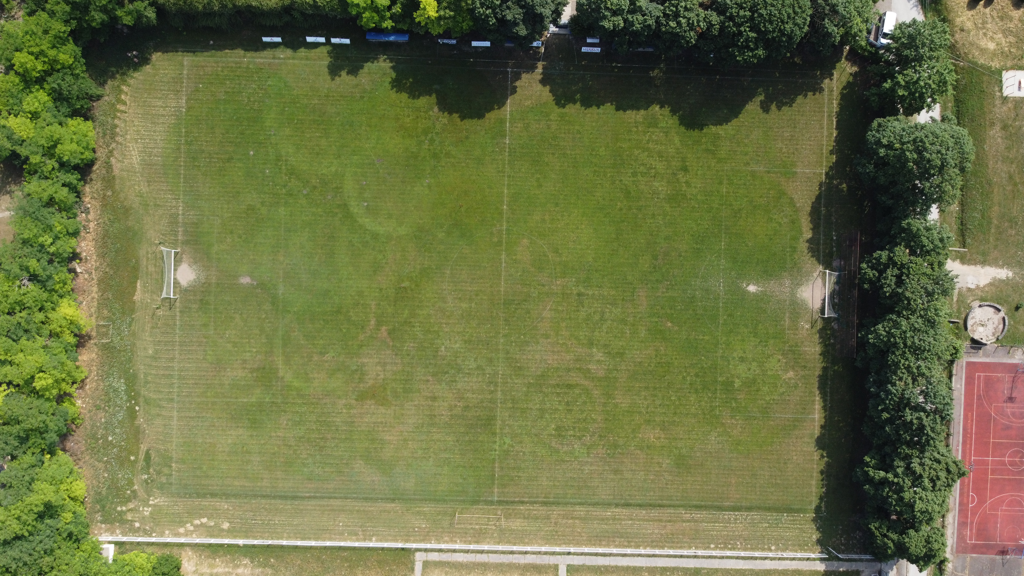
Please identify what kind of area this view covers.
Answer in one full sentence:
The picture captures a sports ground.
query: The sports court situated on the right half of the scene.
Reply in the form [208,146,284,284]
[943,346,1024,576]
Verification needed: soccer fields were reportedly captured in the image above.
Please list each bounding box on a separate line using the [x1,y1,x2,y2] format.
[142,42,836,520]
